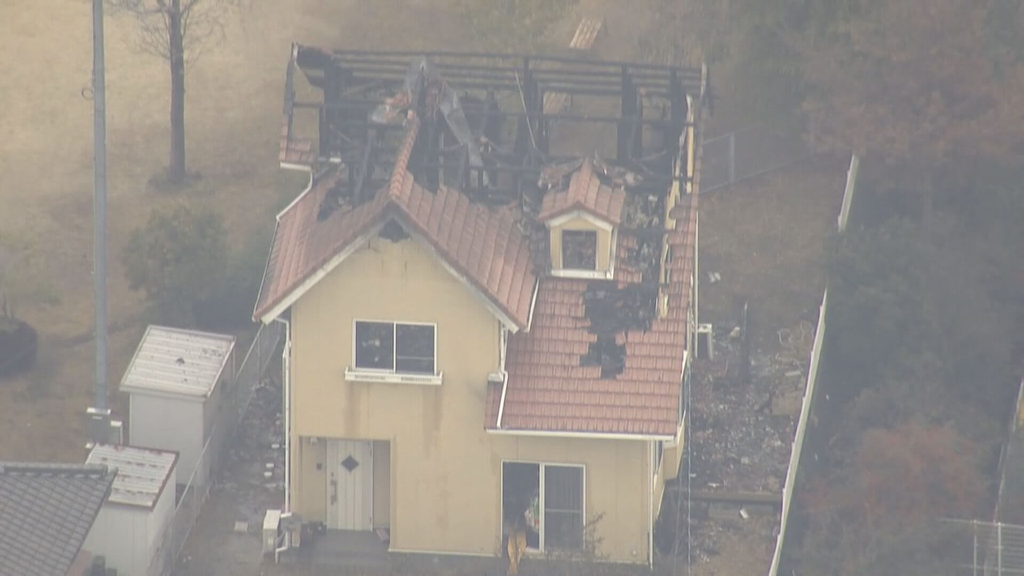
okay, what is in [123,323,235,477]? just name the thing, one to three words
shed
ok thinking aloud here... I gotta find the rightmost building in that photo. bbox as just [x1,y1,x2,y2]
[249,44,706,576]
